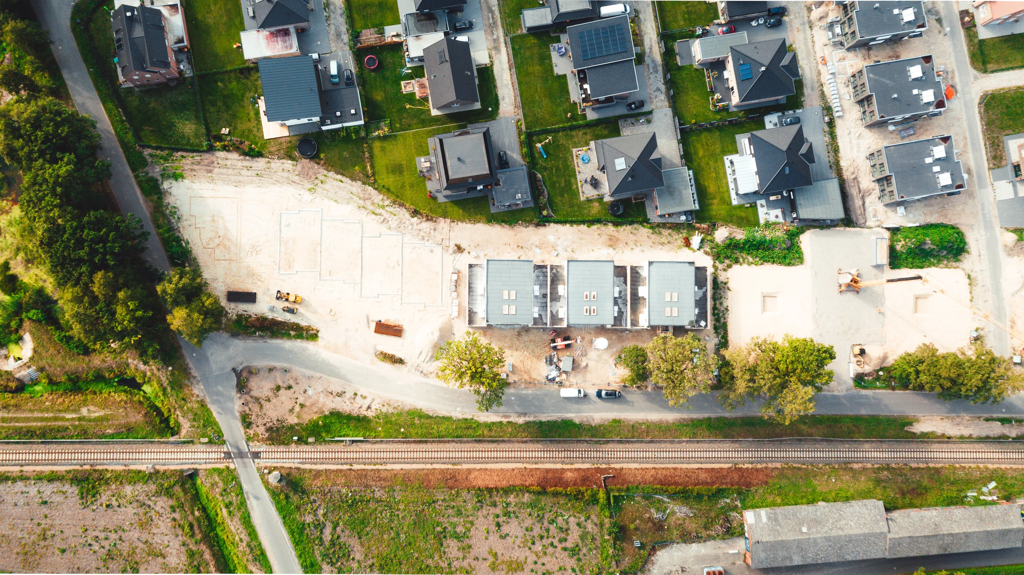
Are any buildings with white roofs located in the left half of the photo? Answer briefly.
Yes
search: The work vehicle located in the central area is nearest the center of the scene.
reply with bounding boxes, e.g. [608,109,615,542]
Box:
[550,336,583,350]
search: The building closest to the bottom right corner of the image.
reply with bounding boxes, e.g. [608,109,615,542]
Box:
[883,503,1024,558]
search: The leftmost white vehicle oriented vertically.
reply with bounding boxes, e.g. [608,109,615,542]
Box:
[327,57,340,82]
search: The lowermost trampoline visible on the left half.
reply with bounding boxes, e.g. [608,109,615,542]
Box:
[296,137,315,156]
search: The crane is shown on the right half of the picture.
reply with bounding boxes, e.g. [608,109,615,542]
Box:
[837,268,1024,347]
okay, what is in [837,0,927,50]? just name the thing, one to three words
building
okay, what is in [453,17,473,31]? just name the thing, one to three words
car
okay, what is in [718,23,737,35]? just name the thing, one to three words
vehicle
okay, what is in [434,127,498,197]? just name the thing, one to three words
house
